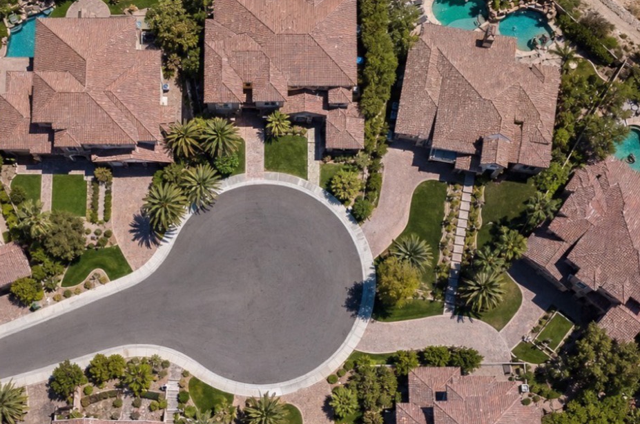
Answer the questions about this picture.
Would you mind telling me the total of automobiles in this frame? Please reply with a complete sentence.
The photo contains no automobiles.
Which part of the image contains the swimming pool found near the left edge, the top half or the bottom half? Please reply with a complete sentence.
The swimming pool found near the left edge is in the top half of the image.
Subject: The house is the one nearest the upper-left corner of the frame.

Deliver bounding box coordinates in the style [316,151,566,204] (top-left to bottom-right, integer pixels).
[0,16,176,168]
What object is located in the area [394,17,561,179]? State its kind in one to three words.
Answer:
house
